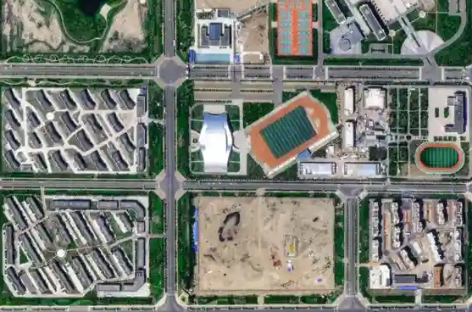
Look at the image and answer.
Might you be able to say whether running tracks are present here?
Yes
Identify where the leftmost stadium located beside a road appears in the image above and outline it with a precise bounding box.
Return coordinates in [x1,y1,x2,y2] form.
[199,114,233,175]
